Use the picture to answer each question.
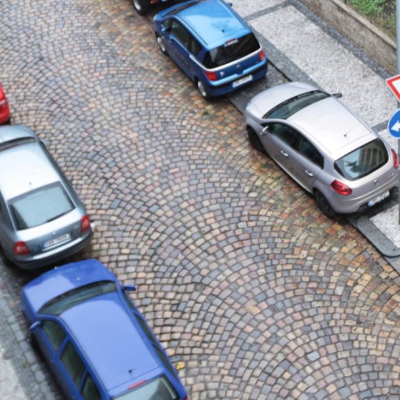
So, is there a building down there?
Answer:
No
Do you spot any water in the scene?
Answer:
No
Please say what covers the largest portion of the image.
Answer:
paved ground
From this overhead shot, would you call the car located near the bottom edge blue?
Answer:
Yes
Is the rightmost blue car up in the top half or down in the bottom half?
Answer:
top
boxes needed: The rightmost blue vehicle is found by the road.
[157,0,277,104]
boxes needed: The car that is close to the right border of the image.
[255,90,399,221]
